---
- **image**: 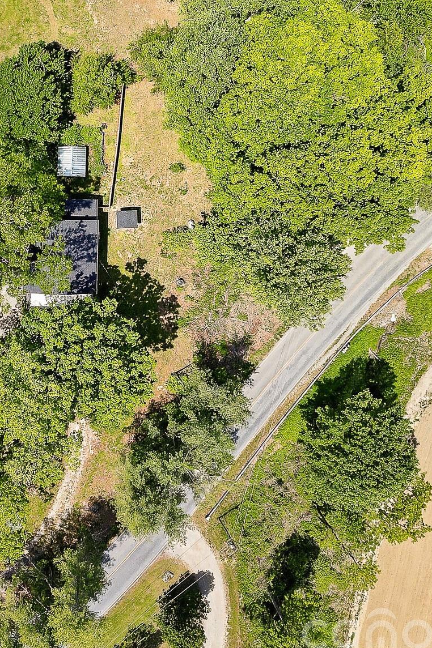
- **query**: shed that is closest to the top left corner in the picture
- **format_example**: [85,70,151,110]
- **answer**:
[57,145,86,177]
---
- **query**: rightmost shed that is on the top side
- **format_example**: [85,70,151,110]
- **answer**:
[117,211,137,229]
